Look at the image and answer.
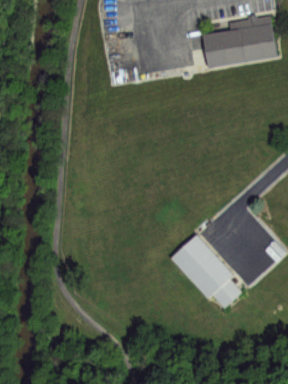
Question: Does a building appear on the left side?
No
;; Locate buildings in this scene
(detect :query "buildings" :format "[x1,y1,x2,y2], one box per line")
[172,234,243,306]
[203,12,278,68]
